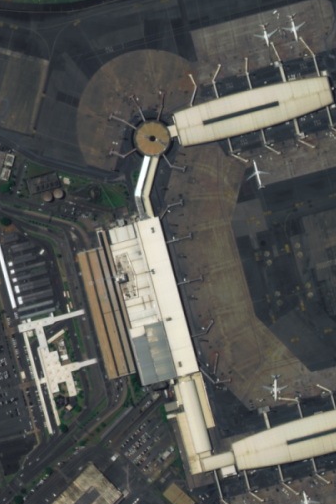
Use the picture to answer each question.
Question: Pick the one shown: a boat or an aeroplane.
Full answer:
The one in the frame is an aeroplane.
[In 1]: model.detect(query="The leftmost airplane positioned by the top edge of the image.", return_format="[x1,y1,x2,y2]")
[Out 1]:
[254,22,276,46]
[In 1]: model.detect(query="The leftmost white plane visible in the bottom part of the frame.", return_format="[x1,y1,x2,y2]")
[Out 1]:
[264,375,288,401]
